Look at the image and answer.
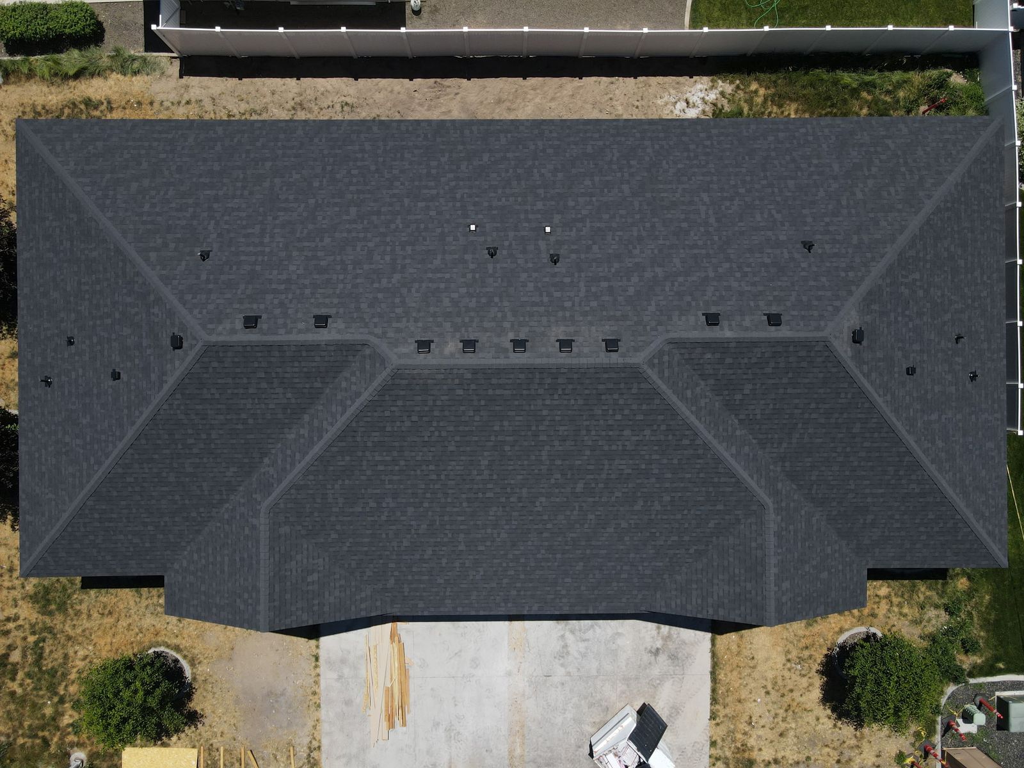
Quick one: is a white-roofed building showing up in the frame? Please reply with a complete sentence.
No, the frame has no white-roofed building in it.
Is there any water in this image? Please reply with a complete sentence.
No, the picture contains no water.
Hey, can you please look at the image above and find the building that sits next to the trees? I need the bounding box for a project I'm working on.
[13,117,1010,633]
